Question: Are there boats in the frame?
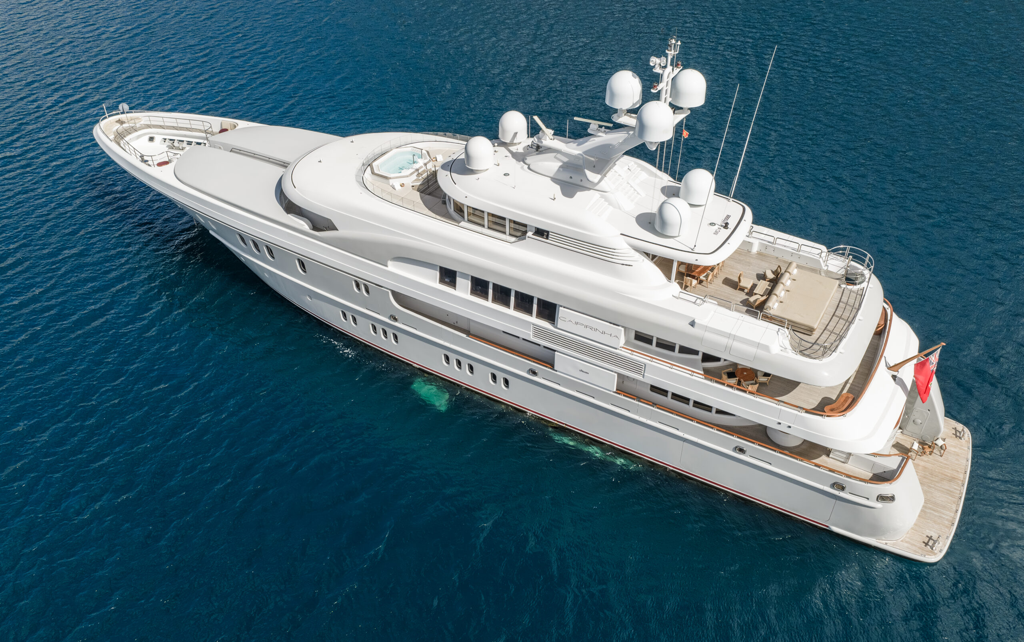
Yes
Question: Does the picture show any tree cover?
No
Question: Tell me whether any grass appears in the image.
No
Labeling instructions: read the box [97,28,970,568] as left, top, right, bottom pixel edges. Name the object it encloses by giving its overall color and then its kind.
white boat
